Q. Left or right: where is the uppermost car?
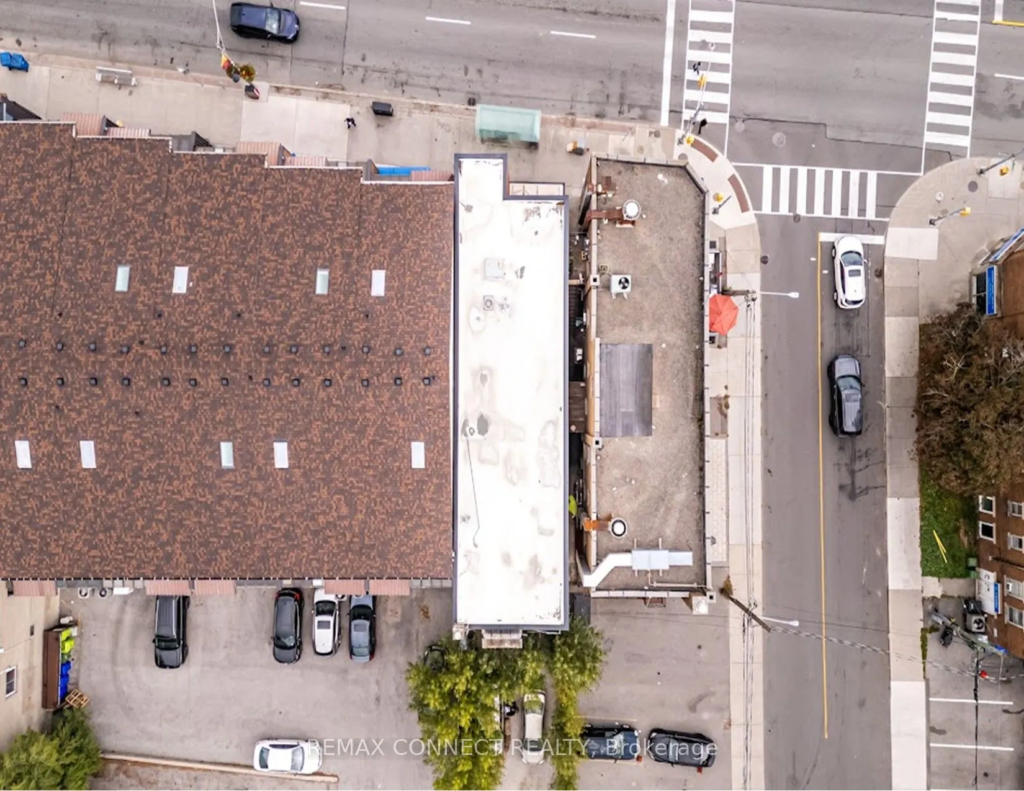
left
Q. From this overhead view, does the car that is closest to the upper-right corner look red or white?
white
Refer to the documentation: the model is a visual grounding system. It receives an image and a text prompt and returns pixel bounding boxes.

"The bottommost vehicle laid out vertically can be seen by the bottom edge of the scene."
[518,689,551,761]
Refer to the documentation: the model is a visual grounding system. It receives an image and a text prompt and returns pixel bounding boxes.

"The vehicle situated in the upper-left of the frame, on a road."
[230,4,303,47]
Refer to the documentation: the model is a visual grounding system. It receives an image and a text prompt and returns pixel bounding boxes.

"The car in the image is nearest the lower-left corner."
[150,596,193,666]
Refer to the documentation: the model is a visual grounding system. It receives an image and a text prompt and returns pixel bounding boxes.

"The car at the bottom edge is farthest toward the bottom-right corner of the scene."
[646,723,717,768]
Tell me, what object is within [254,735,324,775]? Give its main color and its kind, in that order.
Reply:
white car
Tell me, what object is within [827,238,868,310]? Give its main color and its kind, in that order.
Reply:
white car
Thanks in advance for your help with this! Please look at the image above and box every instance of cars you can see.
[827,238,868,310]
[150,596,193,666]
[518,689,551,761]
[646,723,717,768]
[254,735,324,775]
[346,590,380,662]
[270,588,308,662]
[230,4,303,47]
[308,589,345,657]
[824,357,867,436]
[574,720,645,762]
